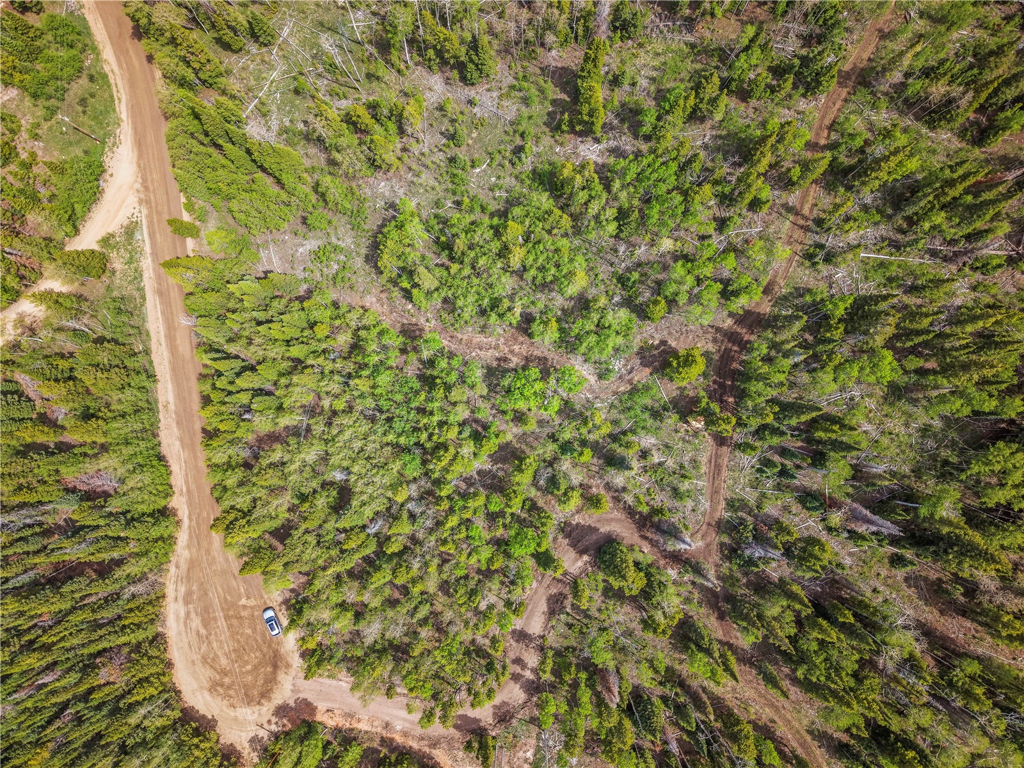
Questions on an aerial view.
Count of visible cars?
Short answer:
one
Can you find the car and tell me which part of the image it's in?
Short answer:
bottom left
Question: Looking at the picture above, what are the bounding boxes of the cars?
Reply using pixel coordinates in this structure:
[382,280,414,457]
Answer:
[261,607,281,639]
